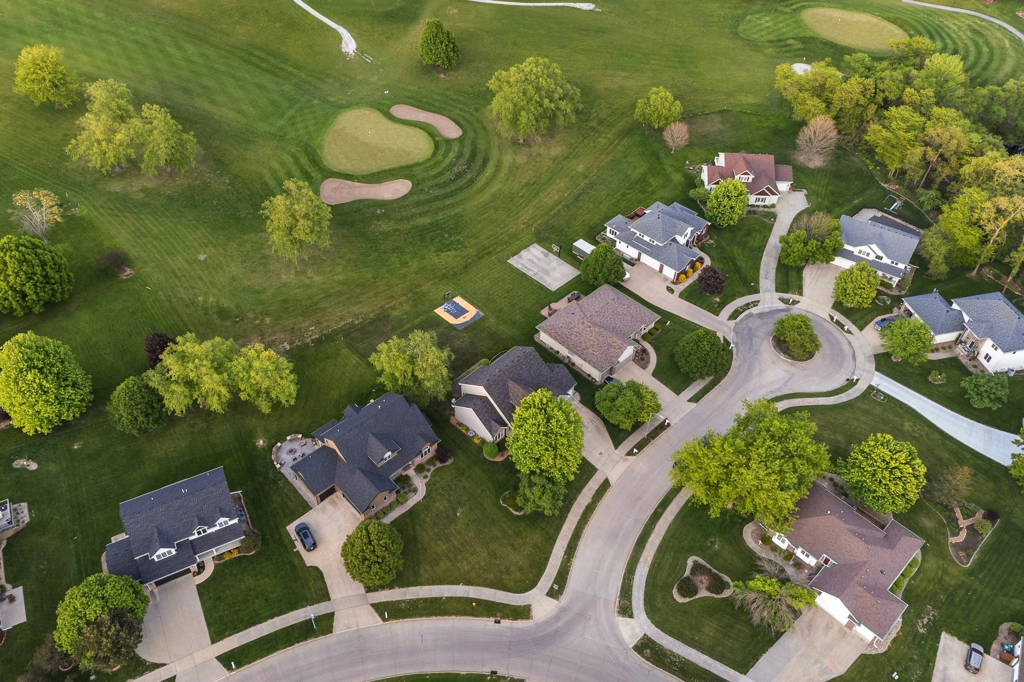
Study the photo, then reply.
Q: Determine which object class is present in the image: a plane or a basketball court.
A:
basketball court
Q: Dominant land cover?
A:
grass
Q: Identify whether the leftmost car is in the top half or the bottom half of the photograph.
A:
bottom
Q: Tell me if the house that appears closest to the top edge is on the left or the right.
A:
right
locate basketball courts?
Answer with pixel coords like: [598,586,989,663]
[434,296,484,330]
[508,243,580,291]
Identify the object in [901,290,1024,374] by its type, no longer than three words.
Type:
house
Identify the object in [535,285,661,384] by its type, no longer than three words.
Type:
house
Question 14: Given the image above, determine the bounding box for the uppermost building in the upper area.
[704,148,794,209]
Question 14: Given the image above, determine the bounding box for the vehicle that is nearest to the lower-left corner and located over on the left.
[295,522,318,554]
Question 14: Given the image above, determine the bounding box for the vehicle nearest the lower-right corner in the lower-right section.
[963,640,987,678]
